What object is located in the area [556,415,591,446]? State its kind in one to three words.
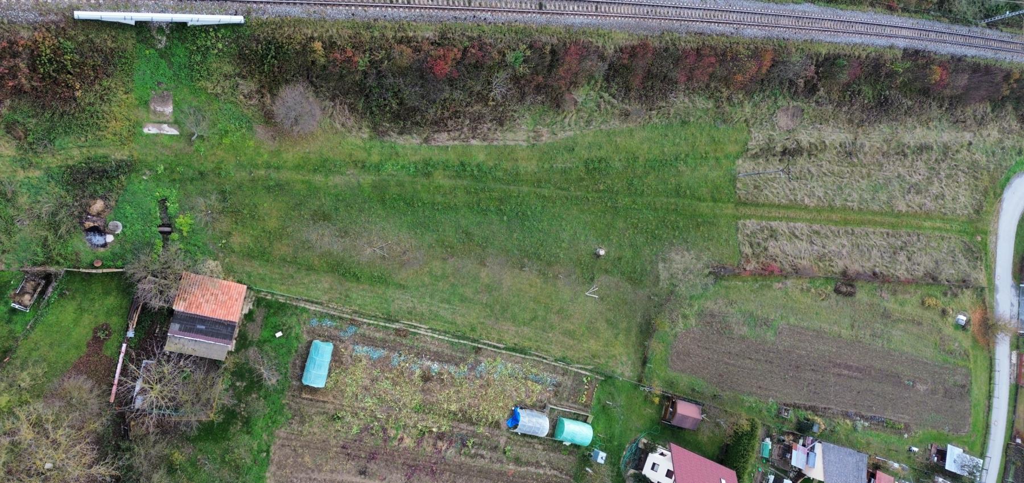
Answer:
greenhouse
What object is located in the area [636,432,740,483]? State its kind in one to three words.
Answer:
house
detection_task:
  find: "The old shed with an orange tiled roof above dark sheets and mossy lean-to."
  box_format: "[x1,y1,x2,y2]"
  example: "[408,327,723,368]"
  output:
[164,272,259,361]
